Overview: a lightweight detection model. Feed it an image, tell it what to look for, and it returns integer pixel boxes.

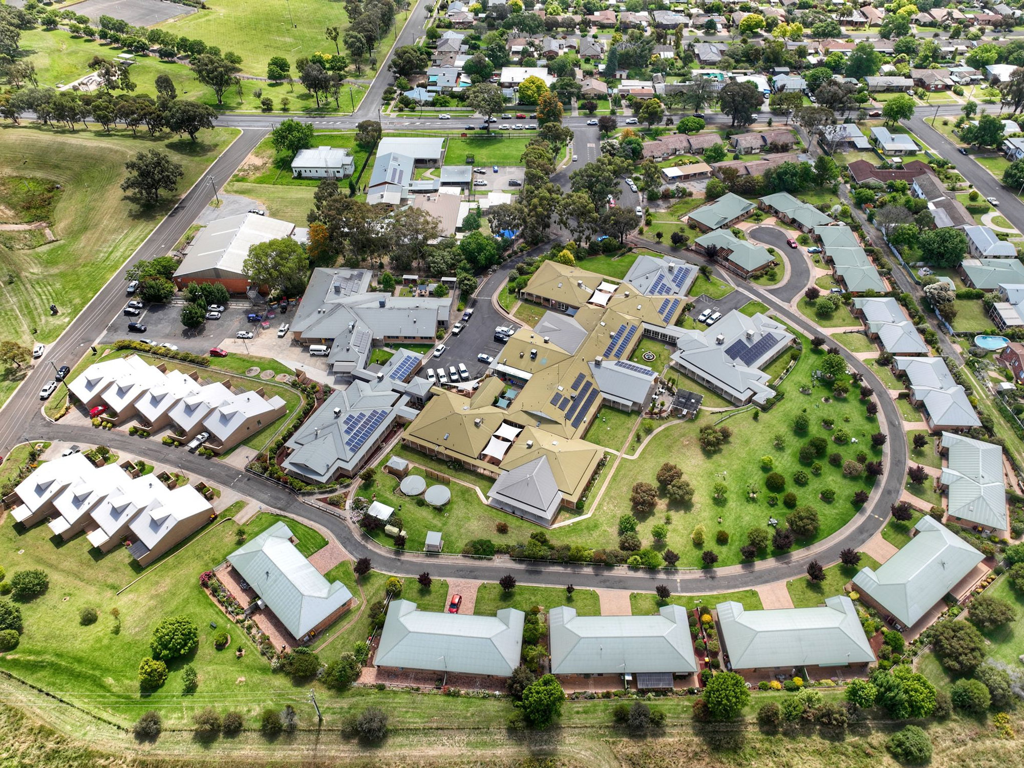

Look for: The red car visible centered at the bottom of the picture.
[449,592,462,614]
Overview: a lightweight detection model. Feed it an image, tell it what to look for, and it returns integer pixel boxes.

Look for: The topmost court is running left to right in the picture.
[58,0,191,26]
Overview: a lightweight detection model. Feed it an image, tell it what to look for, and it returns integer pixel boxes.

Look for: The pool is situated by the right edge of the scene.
[971,336,1008,353]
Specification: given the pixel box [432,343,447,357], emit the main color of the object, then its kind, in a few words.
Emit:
white car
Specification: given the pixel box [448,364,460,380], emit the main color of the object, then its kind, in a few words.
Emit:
white vehicle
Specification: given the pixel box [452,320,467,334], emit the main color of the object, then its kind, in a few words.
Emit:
white vehicle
